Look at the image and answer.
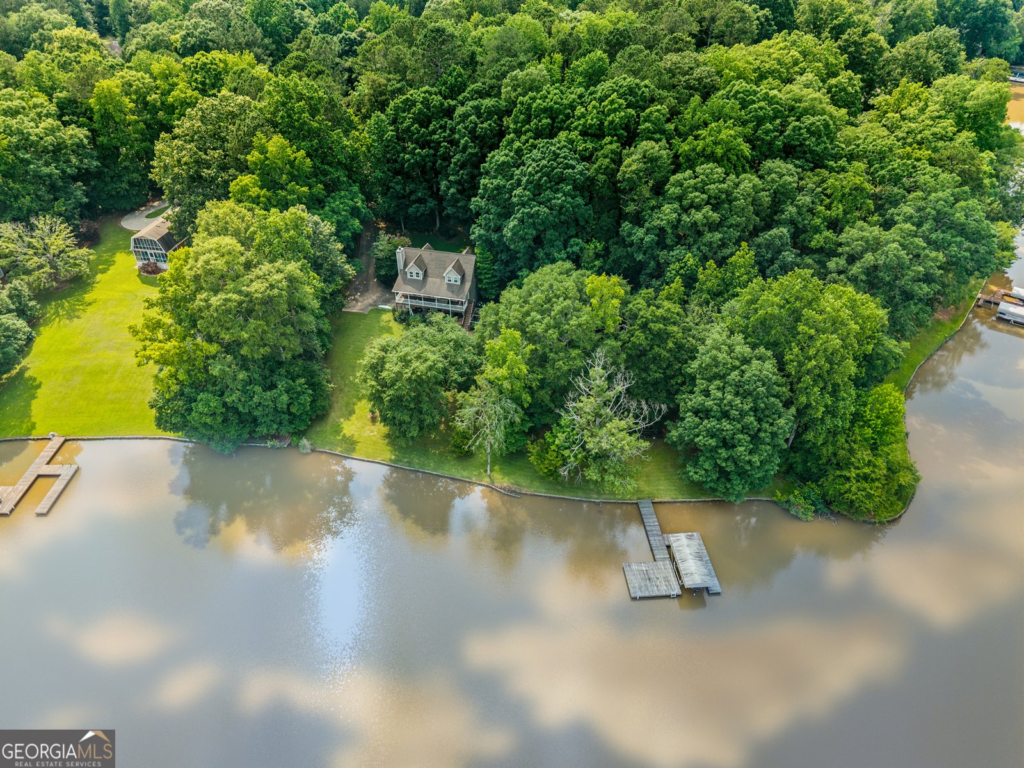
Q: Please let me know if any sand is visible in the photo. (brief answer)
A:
No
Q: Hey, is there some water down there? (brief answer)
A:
Yes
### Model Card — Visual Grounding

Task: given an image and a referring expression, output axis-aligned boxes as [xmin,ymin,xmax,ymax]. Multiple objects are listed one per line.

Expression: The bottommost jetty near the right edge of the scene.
[977,289,1024,312]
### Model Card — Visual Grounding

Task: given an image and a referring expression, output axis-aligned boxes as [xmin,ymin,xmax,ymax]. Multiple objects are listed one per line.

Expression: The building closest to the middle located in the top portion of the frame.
[391,241,481,336]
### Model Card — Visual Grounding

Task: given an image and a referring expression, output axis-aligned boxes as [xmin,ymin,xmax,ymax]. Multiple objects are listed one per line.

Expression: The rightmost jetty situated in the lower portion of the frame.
[623,498,721,600]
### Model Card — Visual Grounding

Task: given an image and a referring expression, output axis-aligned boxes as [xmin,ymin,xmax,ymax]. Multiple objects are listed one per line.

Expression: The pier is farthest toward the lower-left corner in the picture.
[0,437,79,516]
